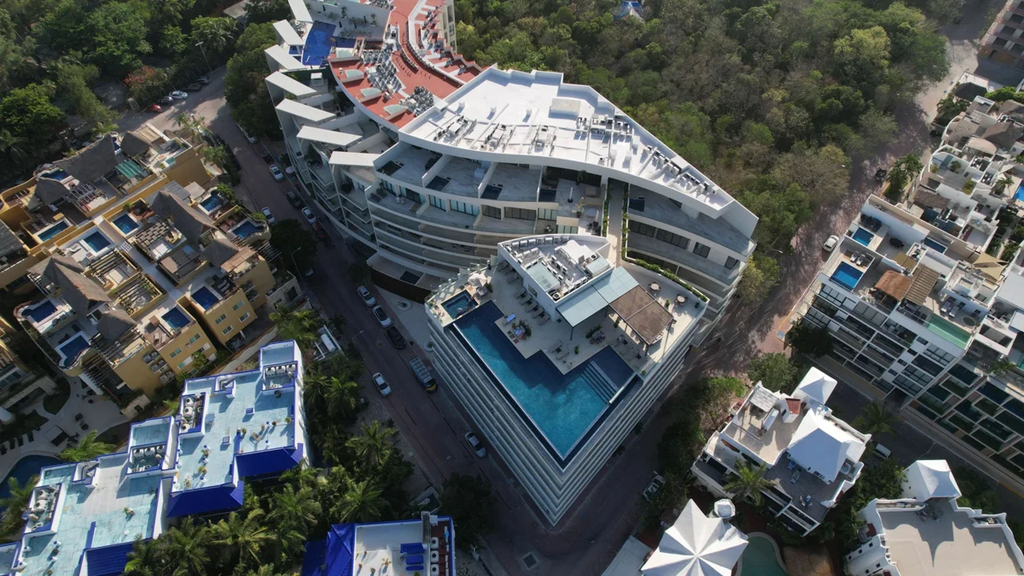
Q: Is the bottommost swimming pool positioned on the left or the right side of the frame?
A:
right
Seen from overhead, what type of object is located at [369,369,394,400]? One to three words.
car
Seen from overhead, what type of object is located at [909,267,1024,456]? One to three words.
building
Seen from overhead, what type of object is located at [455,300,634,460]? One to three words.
swimming pool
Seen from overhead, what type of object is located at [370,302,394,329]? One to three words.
car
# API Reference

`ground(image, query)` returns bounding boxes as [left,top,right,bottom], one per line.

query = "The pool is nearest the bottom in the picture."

[733,526,789,576]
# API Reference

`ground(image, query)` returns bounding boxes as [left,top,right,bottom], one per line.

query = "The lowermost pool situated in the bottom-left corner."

[0,448,68,525]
